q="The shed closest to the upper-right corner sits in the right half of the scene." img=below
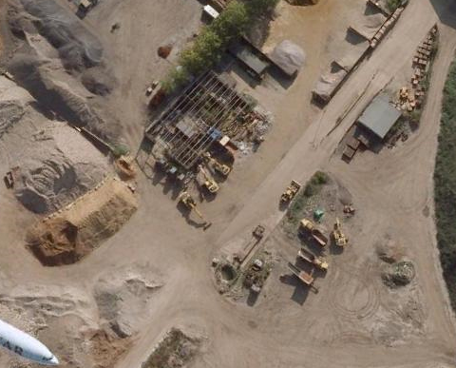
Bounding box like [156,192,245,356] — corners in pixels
[360,96,400,137]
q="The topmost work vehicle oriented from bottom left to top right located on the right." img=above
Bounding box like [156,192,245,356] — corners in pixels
[283,177,302,202]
